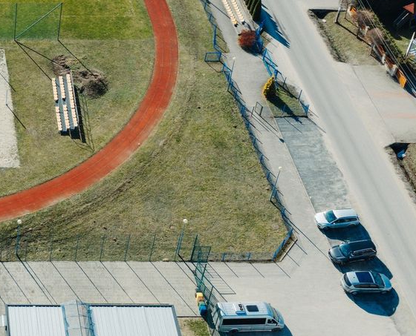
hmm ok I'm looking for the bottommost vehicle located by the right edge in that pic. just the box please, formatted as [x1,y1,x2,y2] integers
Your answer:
[341,269,396,295]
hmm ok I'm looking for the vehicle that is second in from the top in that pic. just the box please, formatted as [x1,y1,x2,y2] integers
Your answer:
[326,238,384,265]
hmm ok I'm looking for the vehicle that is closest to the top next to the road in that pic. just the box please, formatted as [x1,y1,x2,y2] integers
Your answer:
[314,204,367,227]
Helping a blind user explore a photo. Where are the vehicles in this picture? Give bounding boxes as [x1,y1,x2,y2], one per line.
[341,269,396,295]
[314,204,367,227]
[326,238,384,265]
[216,301,288,336]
